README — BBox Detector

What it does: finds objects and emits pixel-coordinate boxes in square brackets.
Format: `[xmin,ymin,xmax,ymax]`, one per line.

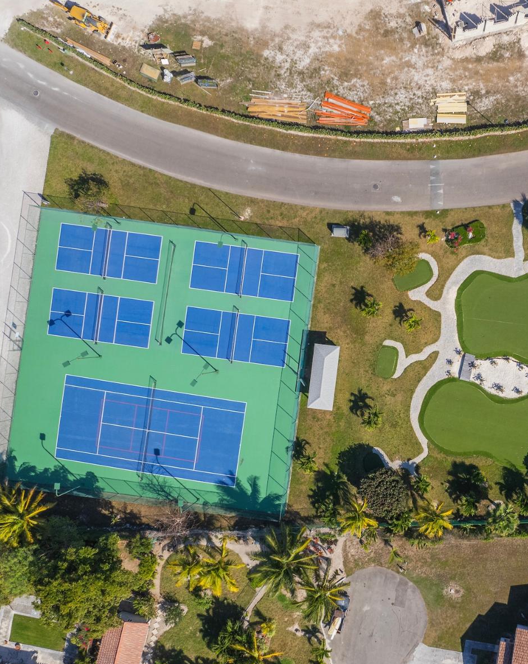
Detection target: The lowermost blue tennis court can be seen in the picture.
[55,374,247,487]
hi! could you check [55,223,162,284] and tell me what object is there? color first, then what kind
blue sports court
